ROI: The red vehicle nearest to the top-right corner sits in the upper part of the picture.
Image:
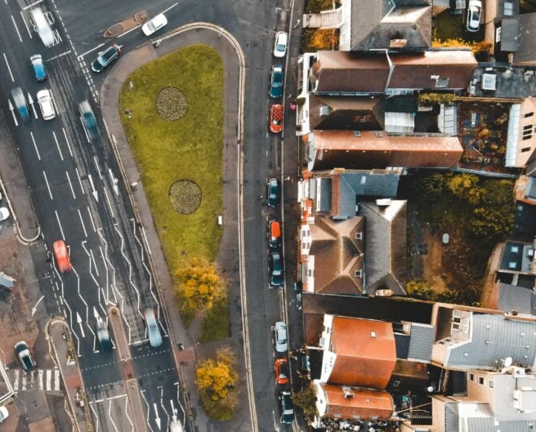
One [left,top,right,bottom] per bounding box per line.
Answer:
[268,104,284,132]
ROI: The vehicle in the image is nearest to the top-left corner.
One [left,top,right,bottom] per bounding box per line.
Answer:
[30,8,57,49]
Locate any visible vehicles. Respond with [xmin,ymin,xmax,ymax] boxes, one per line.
[0,404,11,423]
[15,342,38,372]
[90,42,122,74]
[267,220,283,248]
[268,251,285,286]
[142,308,162,348]
[268,104,284,132]
[37,88,57,122]
[266,176,280,208]
[0,273,18,291]
[267,65,284,98]
[463,0,479,32]
[11,87,30,123]
[272,31,287,58]
[30,8,57,49]
[94,317,114,353]
[0,207,11,222]
[274,357,289,384]
[140,10,170,38]
[51,238,71,271]
[272,321,289,352]
[29,54,48,83]
[168,419,183,432]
